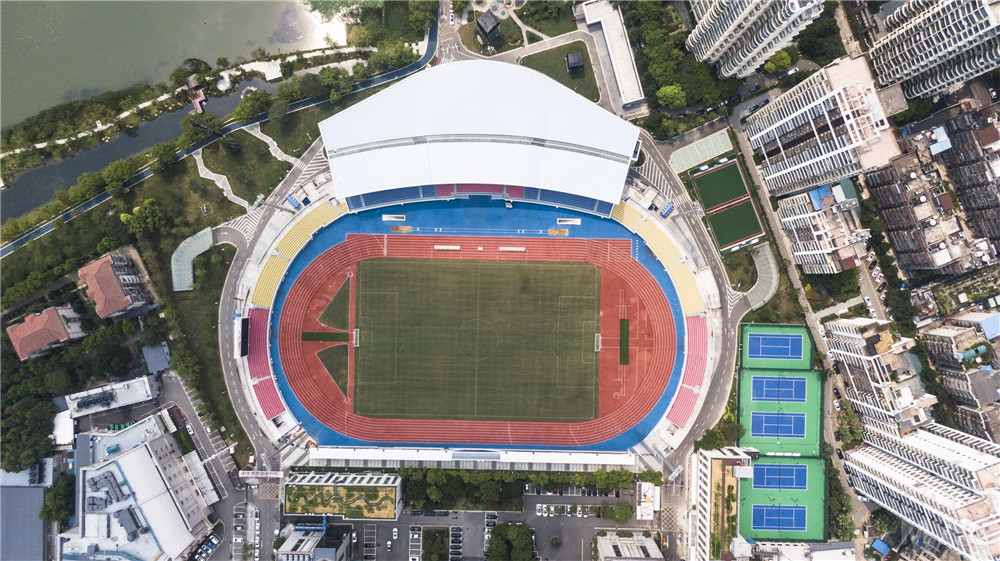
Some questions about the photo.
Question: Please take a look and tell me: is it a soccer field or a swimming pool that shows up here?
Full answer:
Of the two, only a soccer field appears.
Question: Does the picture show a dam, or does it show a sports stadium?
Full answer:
Of the two, only a sports stadium appears.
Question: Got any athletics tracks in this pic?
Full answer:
Yes, there is an athletics track in the image.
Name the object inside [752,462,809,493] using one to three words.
tennis court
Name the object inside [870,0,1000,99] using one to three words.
building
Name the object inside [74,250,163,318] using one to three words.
house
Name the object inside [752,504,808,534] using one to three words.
tennis court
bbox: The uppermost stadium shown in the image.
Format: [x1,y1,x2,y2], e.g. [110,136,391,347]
[239,59,715,449]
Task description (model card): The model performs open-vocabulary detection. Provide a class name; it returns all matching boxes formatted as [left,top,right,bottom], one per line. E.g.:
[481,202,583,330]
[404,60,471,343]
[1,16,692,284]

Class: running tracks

[271,199,687,451]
